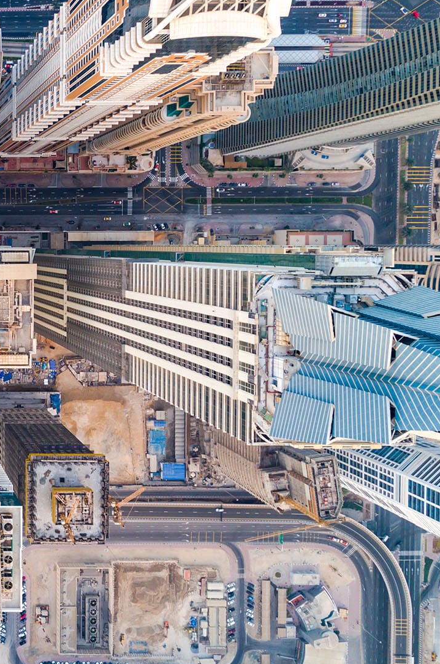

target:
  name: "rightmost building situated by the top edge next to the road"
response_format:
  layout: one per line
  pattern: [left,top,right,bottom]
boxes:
[211,16,440,171]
